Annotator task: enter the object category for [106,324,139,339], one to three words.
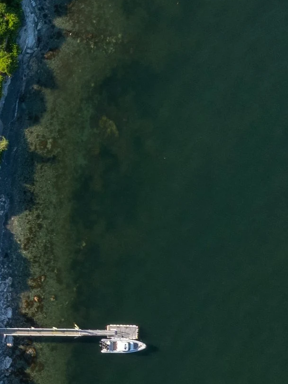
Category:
pier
